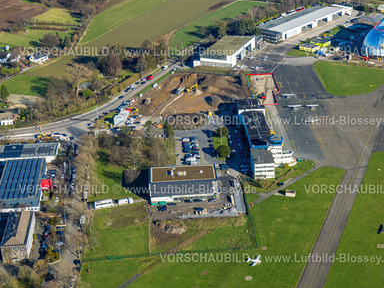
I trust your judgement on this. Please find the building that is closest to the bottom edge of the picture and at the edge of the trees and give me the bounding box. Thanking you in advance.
[1,209,33,261]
